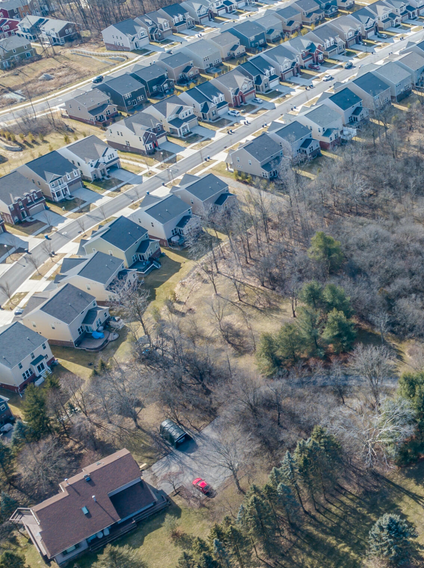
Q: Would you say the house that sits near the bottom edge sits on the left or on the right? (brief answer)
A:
left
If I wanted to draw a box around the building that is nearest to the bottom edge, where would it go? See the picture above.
[4,449,169,568]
